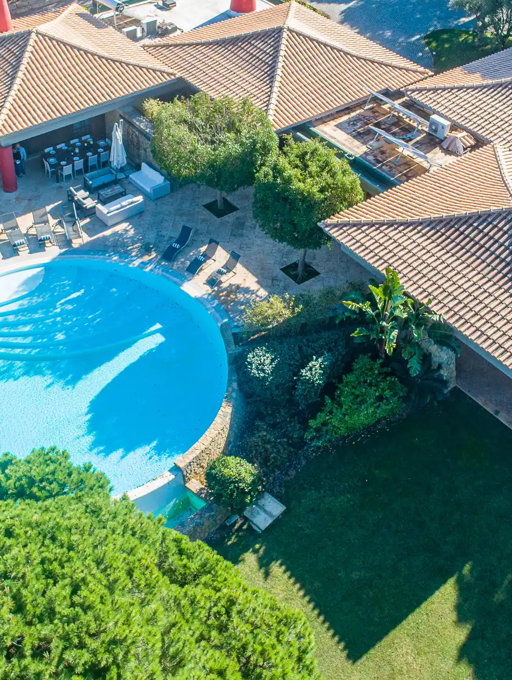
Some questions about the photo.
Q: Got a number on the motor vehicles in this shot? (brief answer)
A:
zero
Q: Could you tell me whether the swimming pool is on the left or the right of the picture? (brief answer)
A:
left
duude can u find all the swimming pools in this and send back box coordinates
[0,253,240,578]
